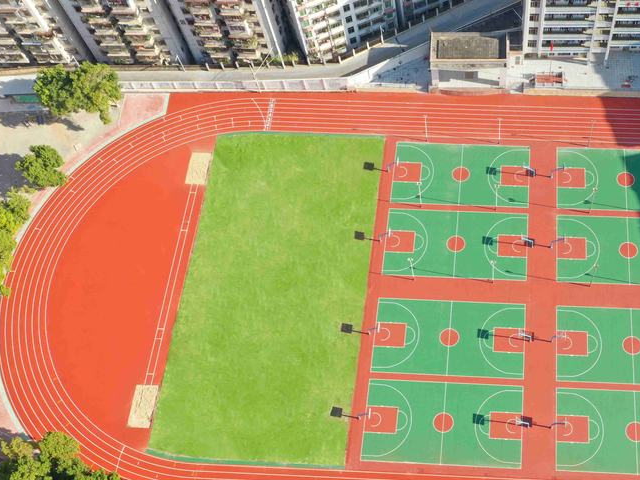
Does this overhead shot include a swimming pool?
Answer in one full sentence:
No, no swimming pool is visible in the scene.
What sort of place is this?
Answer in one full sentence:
The picture captures a sports ground.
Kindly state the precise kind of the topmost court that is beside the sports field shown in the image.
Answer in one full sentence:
The topmost court that is beside the sports field appears to be a basketball court.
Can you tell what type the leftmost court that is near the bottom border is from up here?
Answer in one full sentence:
I'd identify the leftmost court that is near the bottom border as a basketball court.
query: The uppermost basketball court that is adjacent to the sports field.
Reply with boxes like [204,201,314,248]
[390,142,529,207]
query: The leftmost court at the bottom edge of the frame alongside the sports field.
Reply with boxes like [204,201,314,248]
[361,379,524,469]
